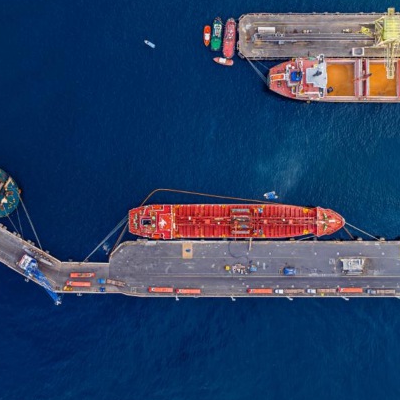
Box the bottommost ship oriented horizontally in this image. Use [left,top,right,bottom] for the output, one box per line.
[129,204,345,241]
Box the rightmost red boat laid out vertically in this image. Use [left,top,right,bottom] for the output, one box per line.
[222,19,237,58]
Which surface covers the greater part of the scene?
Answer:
water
